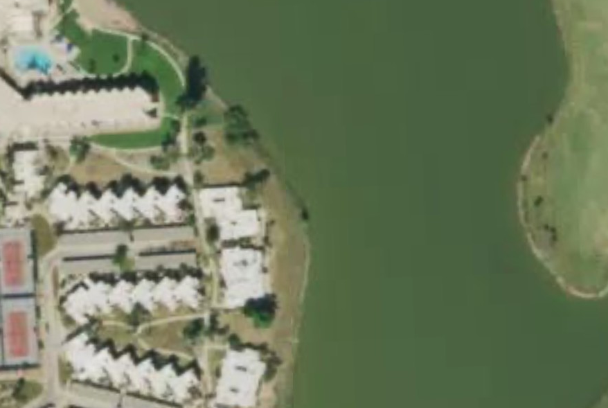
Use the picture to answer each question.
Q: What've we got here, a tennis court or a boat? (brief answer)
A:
tennis court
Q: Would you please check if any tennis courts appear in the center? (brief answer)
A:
No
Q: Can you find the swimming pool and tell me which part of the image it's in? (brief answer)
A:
top left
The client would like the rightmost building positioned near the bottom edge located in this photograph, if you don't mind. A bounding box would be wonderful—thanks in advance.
[216,347,265,404]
